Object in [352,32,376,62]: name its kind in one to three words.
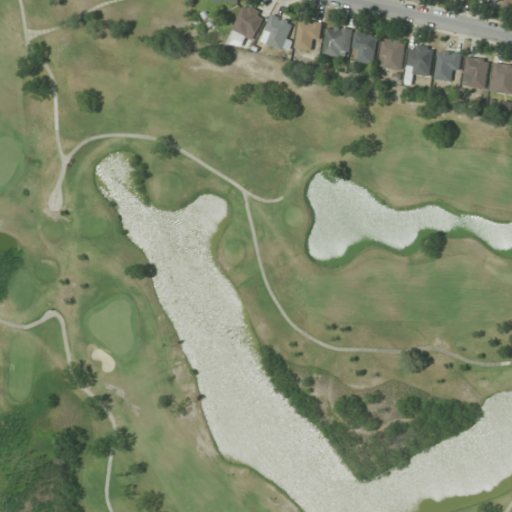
house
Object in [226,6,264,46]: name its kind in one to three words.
house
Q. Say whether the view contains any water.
Yes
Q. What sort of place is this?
golf course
